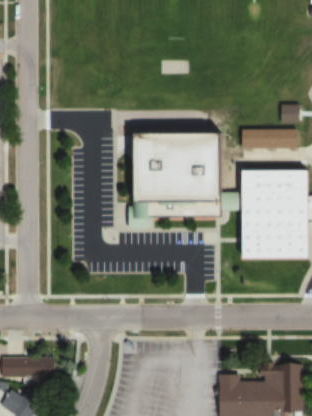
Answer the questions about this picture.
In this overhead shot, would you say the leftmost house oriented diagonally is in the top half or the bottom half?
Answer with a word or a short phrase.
bottom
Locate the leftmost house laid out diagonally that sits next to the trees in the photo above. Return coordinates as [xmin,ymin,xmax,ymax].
[0,382,37,416]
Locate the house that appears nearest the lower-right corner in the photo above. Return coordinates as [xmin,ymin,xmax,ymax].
[219,364,304,416]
